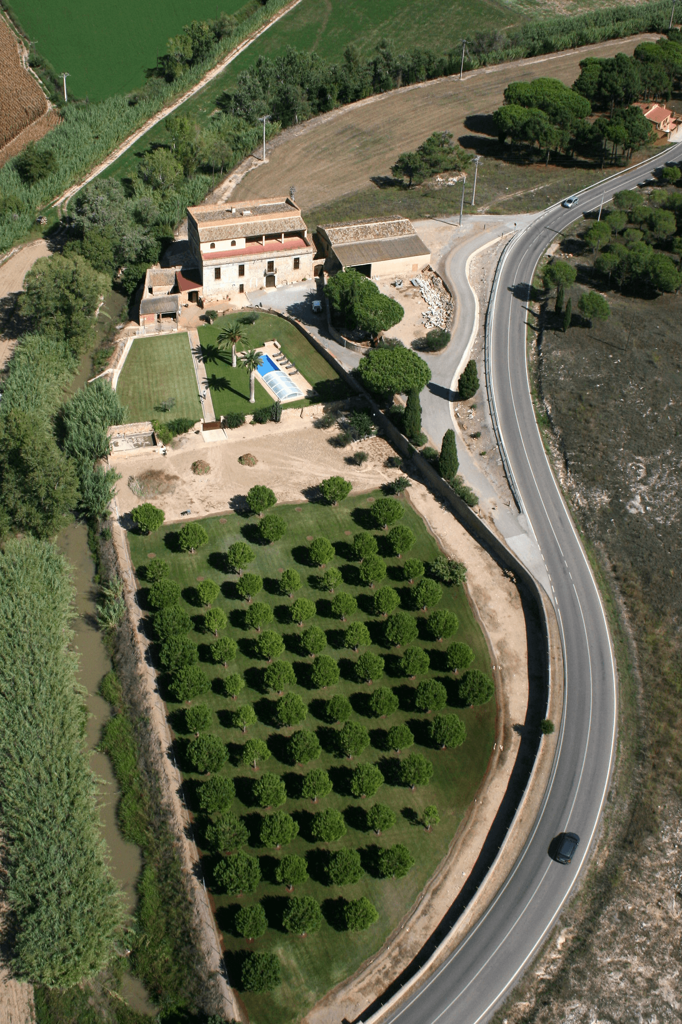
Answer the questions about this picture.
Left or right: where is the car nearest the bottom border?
right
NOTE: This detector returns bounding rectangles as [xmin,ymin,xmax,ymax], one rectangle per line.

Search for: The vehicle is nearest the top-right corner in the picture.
[564,195,579,207]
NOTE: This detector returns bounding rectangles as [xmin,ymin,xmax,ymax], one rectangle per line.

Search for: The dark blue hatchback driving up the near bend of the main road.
[559,830,579,860]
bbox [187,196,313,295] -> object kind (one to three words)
house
